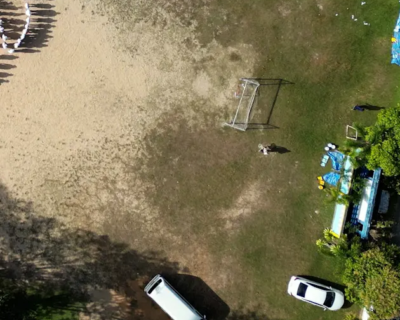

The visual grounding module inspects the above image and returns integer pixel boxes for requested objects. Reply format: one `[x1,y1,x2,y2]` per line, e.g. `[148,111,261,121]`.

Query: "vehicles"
[143,272,207,320]
[287,276,344,310]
